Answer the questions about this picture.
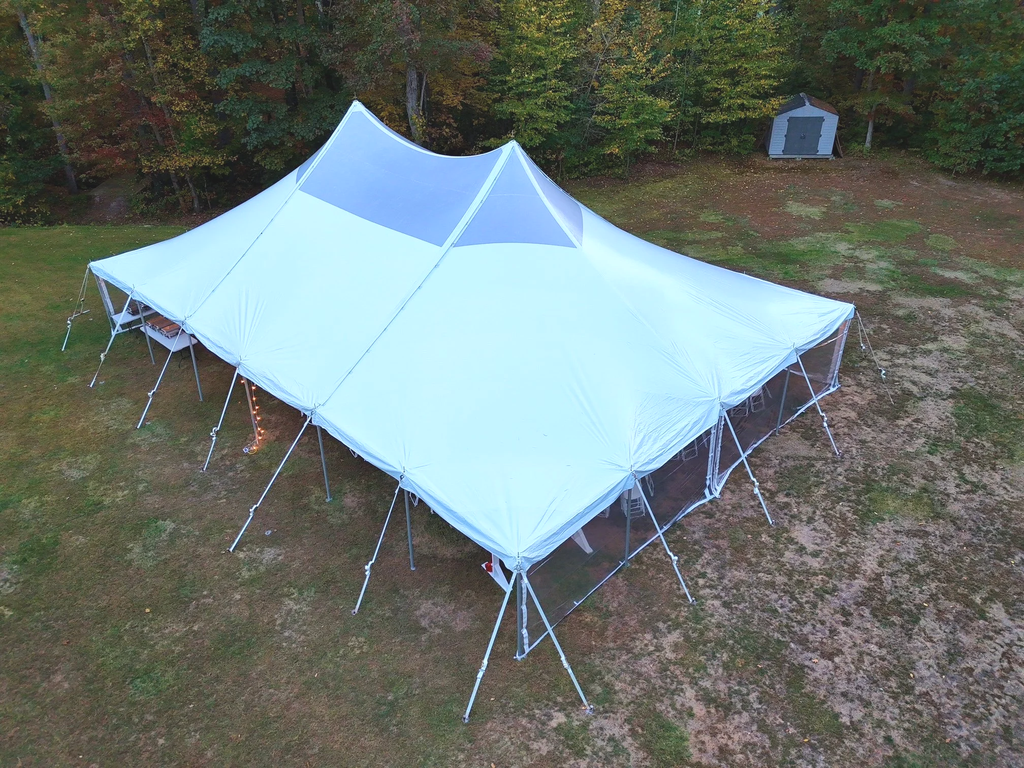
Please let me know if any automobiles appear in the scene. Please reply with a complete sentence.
No, the scene contains no automobile.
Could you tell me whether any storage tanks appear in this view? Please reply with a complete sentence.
No, the picture doesn't show any storage tank.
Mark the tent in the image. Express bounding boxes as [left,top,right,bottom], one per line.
[61,88,895,722]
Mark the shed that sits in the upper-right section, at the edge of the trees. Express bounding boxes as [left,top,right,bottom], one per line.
[760,91,844,159]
